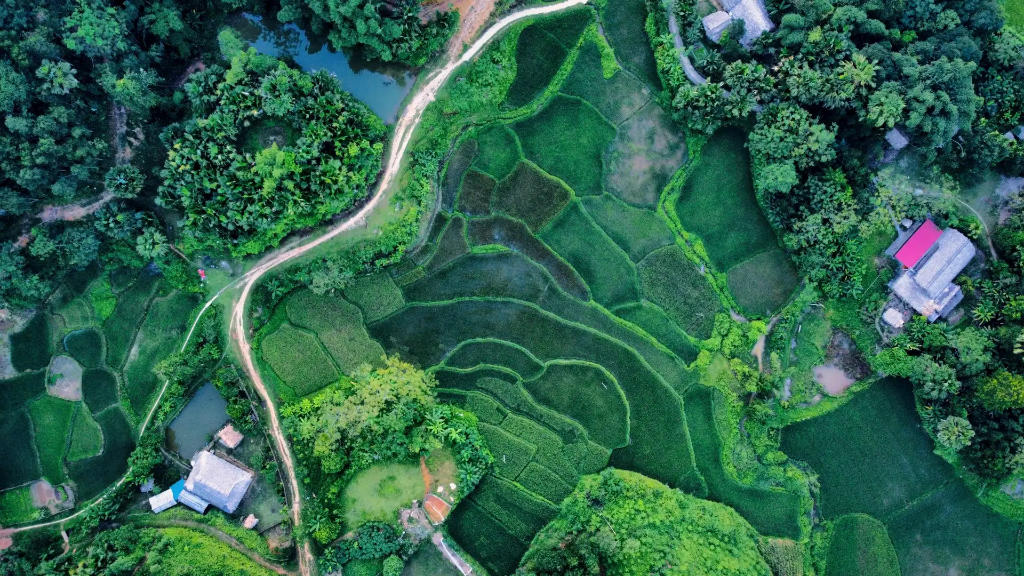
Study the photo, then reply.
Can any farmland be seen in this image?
Yes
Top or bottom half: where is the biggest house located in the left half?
bottom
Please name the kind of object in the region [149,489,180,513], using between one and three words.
shed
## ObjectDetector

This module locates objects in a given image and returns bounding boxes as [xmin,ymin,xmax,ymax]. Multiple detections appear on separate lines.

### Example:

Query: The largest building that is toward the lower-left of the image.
[184,450,254,514]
